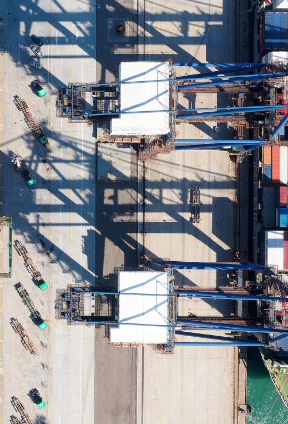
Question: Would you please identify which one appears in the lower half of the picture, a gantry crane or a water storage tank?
gantry crane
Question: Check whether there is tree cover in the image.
No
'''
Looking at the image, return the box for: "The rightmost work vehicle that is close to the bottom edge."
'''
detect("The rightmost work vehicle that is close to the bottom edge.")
[29,388,45,408]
